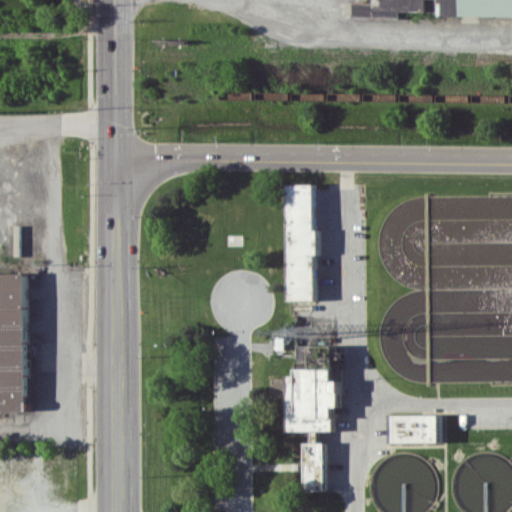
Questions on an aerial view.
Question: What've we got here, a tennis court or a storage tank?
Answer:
storage tank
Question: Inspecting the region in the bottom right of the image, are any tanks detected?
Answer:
Yes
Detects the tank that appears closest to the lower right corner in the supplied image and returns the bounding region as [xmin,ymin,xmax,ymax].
[453,454,512,512]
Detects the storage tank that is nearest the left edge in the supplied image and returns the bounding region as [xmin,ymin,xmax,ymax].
[371,453,439,512]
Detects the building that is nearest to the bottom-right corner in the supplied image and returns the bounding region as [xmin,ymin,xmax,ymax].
[390,416,442,444]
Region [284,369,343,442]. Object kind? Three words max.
building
